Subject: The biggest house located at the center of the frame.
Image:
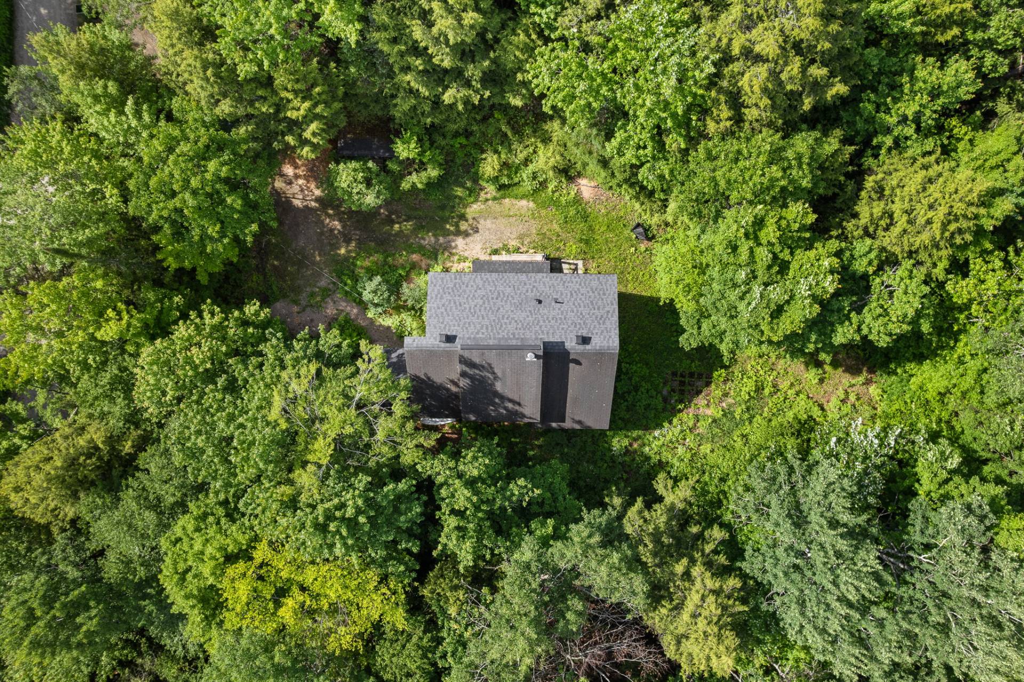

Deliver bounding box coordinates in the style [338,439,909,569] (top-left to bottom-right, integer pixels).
[383,253,620,430]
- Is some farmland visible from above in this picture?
No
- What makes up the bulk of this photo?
trees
